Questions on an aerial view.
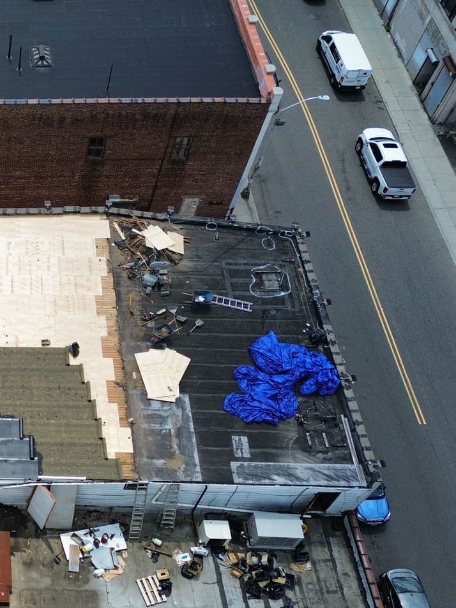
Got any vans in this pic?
Yes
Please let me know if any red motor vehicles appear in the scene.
No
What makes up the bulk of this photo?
buildings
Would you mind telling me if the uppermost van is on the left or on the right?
right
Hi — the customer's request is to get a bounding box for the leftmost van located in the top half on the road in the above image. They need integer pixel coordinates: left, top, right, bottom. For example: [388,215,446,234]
[314,36,375,92]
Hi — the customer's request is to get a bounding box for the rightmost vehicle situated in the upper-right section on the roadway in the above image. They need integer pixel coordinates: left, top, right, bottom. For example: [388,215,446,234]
[353,129,421,199]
